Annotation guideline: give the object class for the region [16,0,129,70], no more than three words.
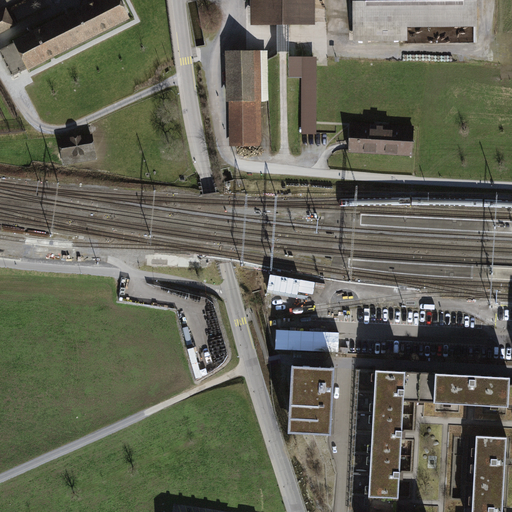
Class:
house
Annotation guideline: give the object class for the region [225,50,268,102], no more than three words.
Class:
barn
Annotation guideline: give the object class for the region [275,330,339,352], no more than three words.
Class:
building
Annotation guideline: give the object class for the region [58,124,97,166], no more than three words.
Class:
house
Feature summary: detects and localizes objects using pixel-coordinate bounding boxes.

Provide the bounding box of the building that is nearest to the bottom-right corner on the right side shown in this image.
[468,434,507,512]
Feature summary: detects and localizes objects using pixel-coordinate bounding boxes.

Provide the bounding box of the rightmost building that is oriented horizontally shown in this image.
[430,372,510,414]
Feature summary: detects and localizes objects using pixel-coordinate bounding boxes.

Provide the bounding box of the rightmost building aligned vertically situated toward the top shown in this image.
[288,57,316,134]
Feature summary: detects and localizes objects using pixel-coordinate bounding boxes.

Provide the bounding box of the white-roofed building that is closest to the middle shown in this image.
[268,275,314,300]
